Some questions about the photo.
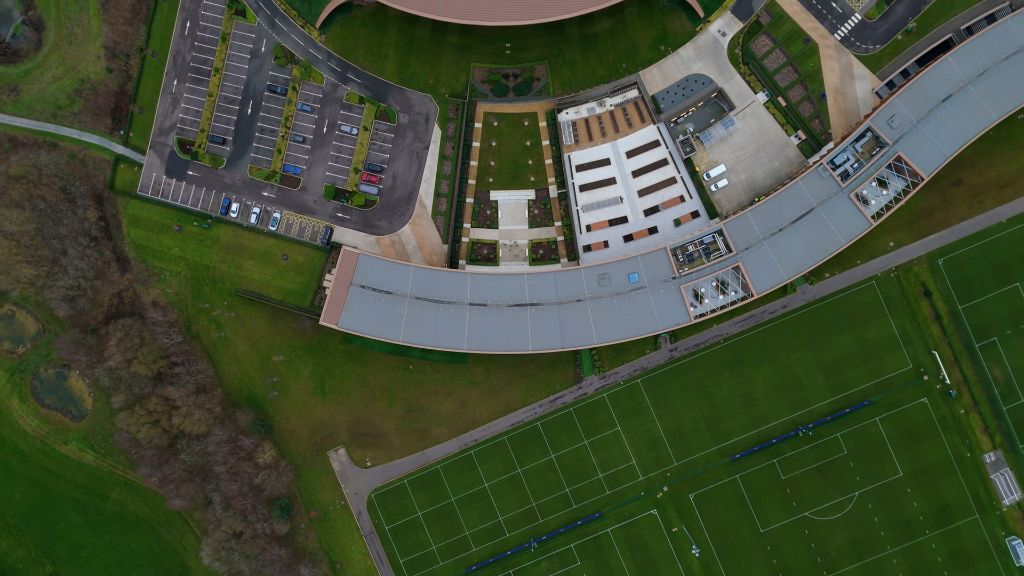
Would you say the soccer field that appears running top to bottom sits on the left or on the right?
right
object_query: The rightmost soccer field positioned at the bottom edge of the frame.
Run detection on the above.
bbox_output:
[687,394,1004,576]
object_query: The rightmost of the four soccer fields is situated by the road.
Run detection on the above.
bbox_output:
[935,222,1024,454]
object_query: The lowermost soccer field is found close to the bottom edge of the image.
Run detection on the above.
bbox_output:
[498,507,686,576]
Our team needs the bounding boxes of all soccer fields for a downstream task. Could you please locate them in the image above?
[498,507,686,576]
[369,277,916,576]
[687,394,1004,576]
[935,222,1024,454]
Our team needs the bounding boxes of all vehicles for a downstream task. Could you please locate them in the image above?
[290,134,307,144]
[322,225,333,245]
[250,207,261,225]
[231,202,241,218]
[365,162,383,172]
[208,134,227,145]
[268,84,287,95]
[360,184,379,194]
[340,125,359,135]
[710,178,730,192]
[283,165,300,174]
[297,103,314,113]
[270,212,281,230]
[362,173,380,184]
[221,198,231,215]
[704,164,728,181]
